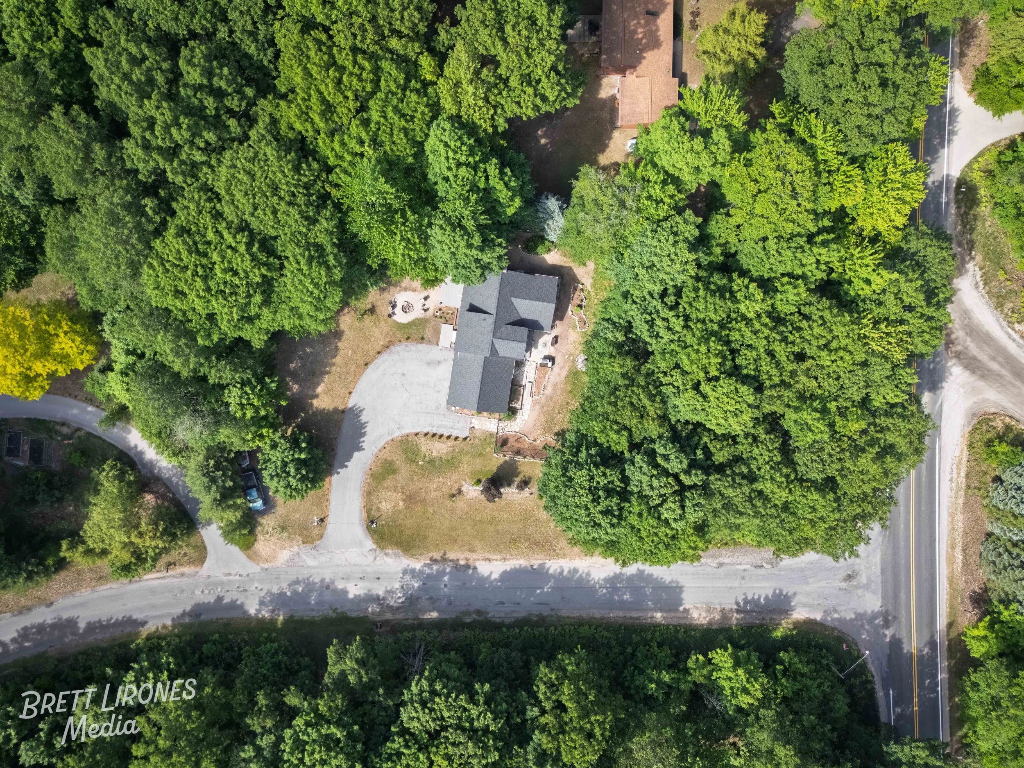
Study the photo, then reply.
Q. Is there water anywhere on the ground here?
No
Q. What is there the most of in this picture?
trees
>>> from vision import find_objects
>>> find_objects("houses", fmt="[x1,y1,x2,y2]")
[601,0,678,130]
[447,266,559,415]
